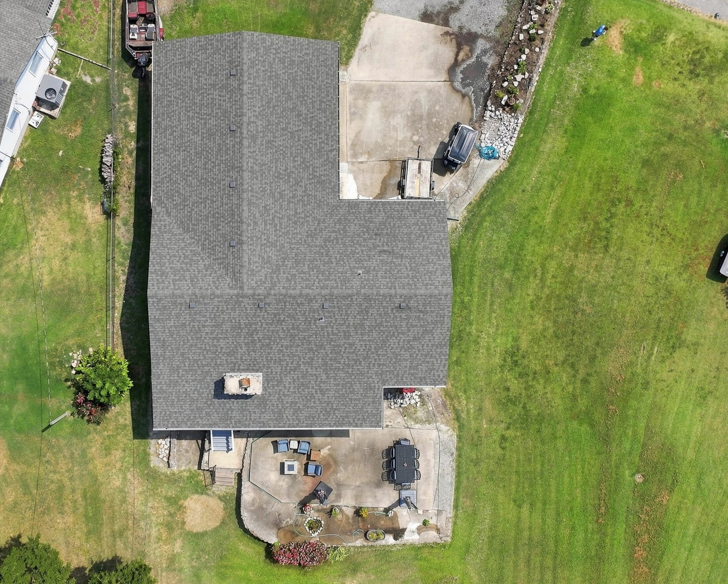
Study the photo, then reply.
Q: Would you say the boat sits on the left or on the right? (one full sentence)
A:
The boat is on the left side of the image.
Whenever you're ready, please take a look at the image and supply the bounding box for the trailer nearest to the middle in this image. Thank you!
[401,145,436,197]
